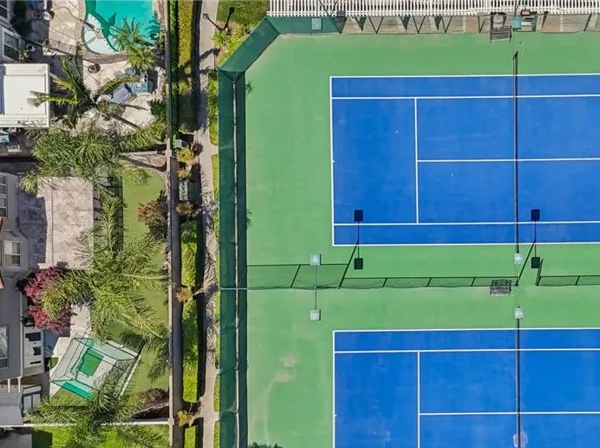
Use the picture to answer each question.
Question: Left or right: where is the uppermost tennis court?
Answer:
right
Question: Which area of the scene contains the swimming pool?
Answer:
top left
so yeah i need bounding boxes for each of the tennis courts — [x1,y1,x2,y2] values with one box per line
[333,328,600,448]
[330,72,600,246]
